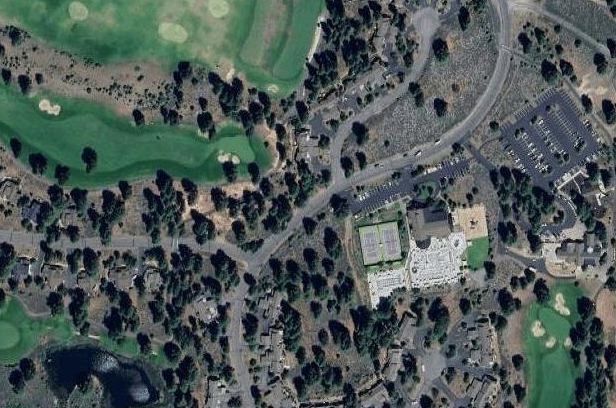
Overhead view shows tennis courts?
Yes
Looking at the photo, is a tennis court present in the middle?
Yes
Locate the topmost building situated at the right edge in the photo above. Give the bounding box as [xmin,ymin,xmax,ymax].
[575,178,603,201]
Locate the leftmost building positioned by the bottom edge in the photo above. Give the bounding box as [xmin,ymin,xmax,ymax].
[208,376,236,407]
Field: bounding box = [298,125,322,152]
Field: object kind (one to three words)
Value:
building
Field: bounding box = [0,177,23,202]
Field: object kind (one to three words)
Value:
house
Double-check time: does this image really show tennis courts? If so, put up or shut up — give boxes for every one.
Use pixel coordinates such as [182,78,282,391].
[378,222,402,263]
[358,224,382,265]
